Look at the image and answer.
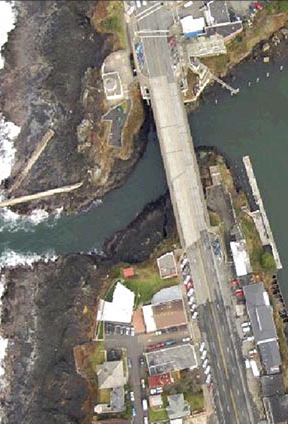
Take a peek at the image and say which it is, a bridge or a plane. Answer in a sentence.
Of the two, only a bridge appears.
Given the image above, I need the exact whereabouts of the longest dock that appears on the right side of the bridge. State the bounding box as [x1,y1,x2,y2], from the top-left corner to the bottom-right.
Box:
[244,155,282,269]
